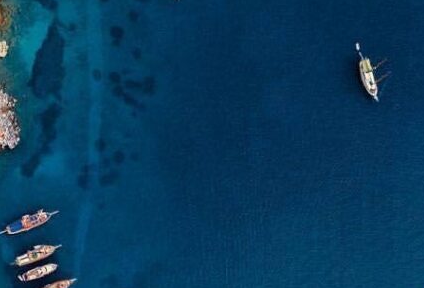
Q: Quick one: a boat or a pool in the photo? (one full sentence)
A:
It is a boat that can be seen here.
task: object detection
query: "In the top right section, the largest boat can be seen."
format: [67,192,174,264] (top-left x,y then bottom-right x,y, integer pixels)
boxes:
[360,49,386,99]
